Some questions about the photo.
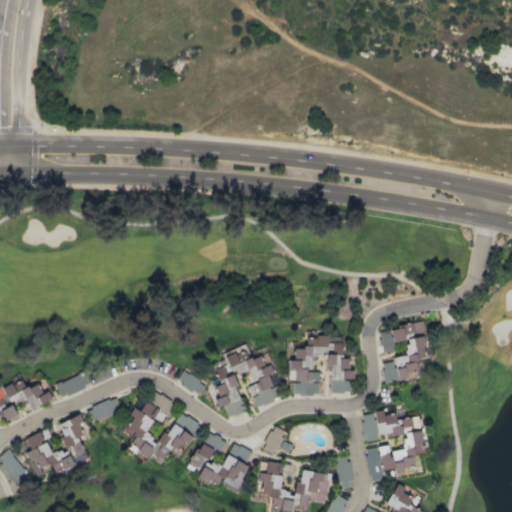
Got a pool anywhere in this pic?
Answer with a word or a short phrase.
Yes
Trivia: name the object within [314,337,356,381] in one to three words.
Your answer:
house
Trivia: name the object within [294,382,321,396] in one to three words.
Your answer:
building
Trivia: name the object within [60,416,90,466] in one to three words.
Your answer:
house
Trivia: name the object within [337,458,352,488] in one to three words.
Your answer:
building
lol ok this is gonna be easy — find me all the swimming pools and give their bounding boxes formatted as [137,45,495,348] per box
[288,423,334,456]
